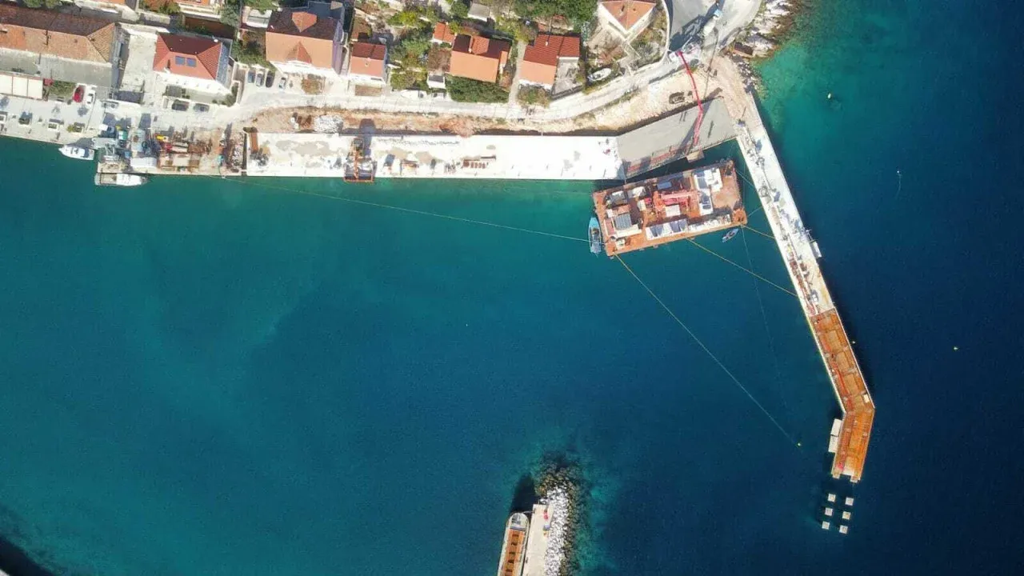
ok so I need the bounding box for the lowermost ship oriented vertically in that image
[495,511,527,576]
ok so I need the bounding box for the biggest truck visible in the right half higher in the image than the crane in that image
[669,45,710,147]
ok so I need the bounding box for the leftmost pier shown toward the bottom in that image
[522,503,554,576]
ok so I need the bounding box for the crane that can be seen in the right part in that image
[651,188,699,216]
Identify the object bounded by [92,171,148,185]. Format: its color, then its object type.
white boat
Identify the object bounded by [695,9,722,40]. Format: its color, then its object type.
white truck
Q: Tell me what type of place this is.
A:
port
